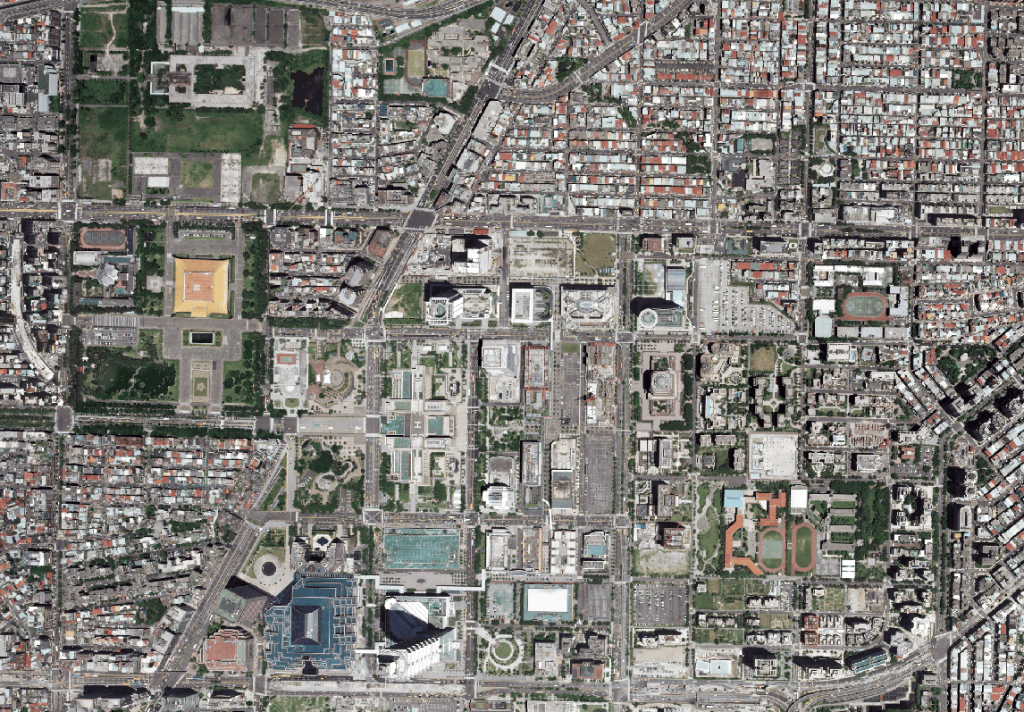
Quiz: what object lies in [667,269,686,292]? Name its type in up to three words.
building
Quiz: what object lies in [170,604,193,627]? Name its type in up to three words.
building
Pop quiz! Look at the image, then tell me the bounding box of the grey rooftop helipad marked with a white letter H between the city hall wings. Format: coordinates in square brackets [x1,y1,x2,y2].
[411,415,429,436]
